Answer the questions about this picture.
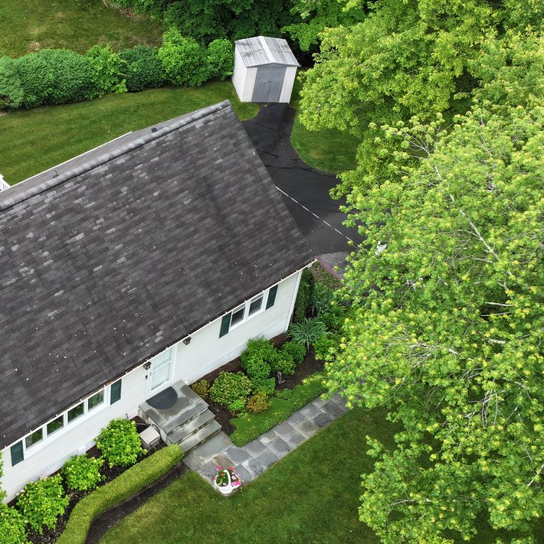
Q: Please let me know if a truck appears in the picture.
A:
No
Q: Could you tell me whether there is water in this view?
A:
No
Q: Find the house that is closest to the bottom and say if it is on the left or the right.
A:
left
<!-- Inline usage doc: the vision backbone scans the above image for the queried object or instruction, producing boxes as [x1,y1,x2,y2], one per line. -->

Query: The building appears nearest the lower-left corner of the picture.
[0,97,318,503]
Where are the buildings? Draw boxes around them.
[237,32,300,103]
[0,97,318,503]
